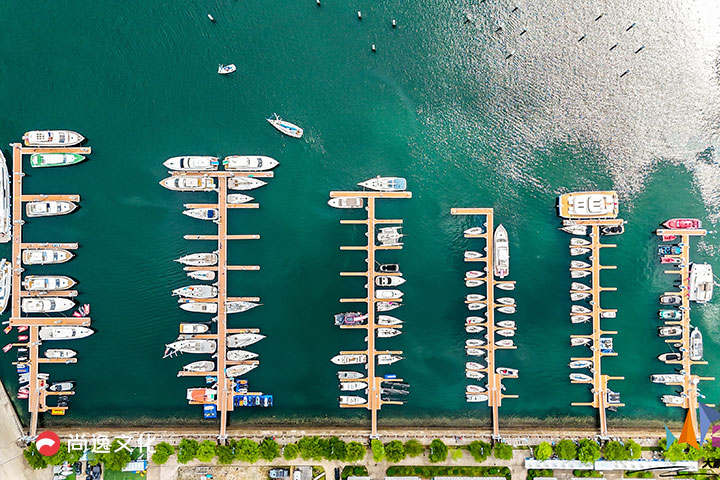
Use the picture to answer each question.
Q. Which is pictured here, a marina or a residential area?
marina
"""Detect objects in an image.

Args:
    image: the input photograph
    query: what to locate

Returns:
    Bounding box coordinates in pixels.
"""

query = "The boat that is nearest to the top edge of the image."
[217,61,236,74]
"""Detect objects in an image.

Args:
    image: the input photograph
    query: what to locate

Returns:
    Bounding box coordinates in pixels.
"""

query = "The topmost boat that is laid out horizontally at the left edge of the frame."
[23,131,84,147]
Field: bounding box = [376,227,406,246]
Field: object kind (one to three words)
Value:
boat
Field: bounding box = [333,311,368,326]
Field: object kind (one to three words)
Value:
boat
